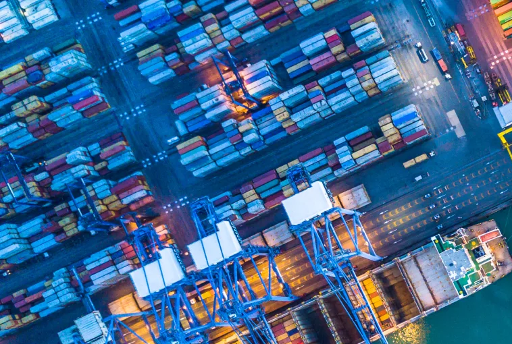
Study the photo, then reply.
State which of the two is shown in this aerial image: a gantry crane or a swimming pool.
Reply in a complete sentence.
Visible in the photo is a gantry crane.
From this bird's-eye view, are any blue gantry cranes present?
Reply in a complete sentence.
Yes, there's a blue gantry crane down there.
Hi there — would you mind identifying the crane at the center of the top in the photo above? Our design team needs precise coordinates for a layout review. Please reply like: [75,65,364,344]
[209,48,270,113]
